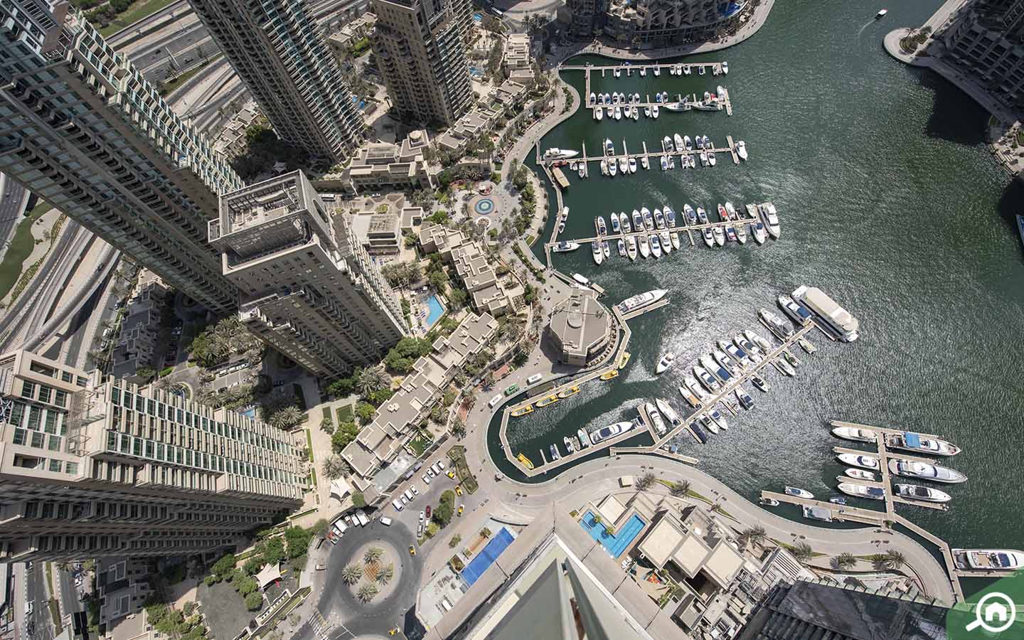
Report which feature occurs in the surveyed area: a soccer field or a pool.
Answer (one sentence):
I can see a pool in this picture.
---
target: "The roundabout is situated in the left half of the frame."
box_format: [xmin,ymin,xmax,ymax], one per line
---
[308,518,422,640]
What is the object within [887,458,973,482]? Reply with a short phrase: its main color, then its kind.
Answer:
white boat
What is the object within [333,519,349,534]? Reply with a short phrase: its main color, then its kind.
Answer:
white vehicle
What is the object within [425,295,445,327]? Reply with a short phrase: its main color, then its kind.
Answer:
blue swimming pool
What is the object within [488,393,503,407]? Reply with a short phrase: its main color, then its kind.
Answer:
white vehicle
